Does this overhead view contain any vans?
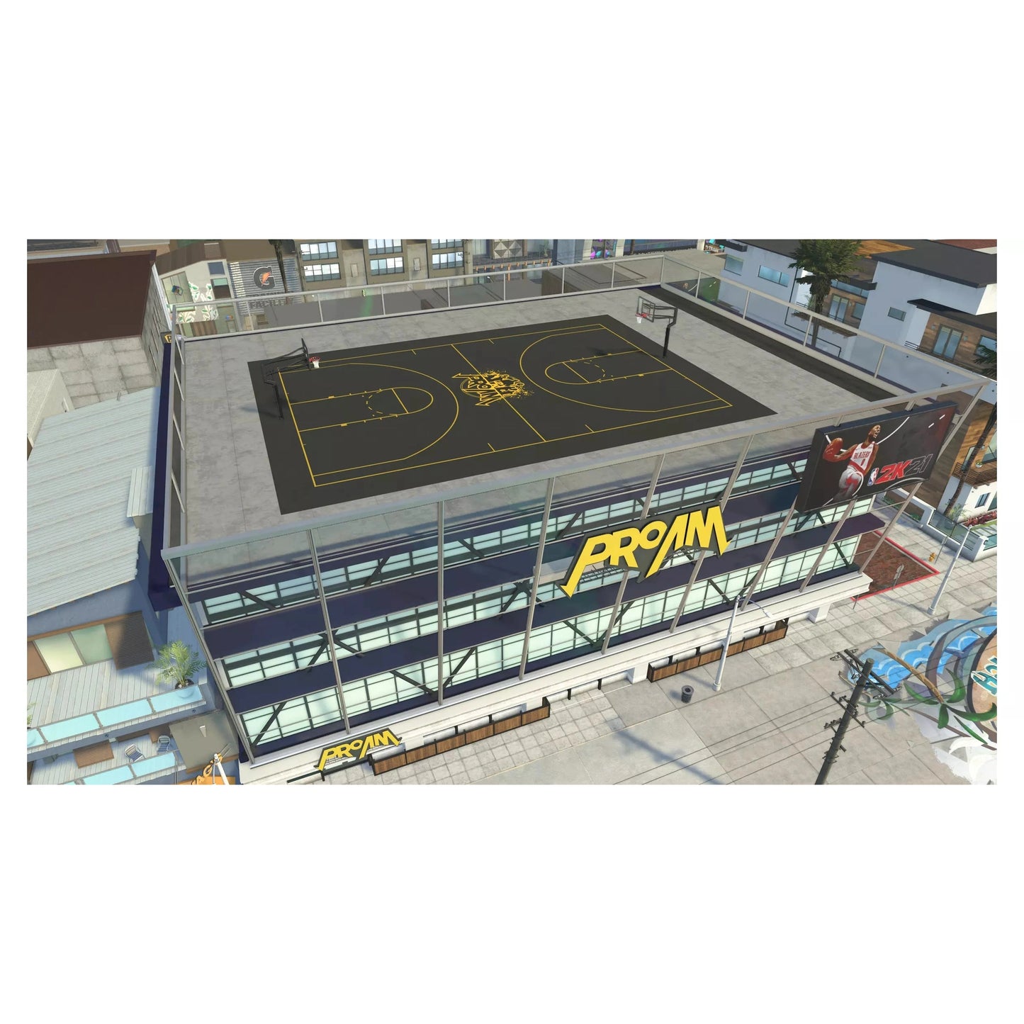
No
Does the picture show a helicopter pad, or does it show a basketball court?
basketball court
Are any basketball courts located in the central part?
Yes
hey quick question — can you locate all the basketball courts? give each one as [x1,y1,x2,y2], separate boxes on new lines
[248,315,778,515]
